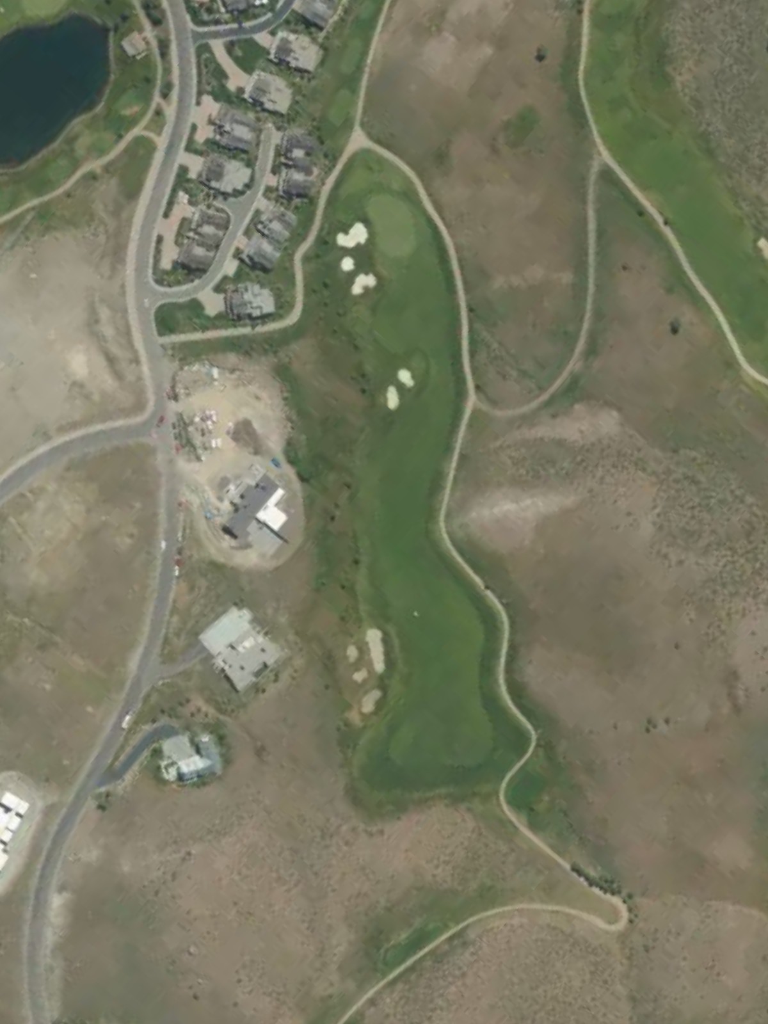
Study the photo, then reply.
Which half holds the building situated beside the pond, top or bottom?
top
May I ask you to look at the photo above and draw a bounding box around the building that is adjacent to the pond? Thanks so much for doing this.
[121,31,147,57]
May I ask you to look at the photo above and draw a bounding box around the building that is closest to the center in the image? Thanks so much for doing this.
[224,465,288,555]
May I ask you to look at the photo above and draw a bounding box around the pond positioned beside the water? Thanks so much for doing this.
[0,12,111,169]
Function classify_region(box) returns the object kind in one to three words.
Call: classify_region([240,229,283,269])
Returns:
house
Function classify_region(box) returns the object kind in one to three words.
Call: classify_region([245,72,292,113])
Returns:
house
